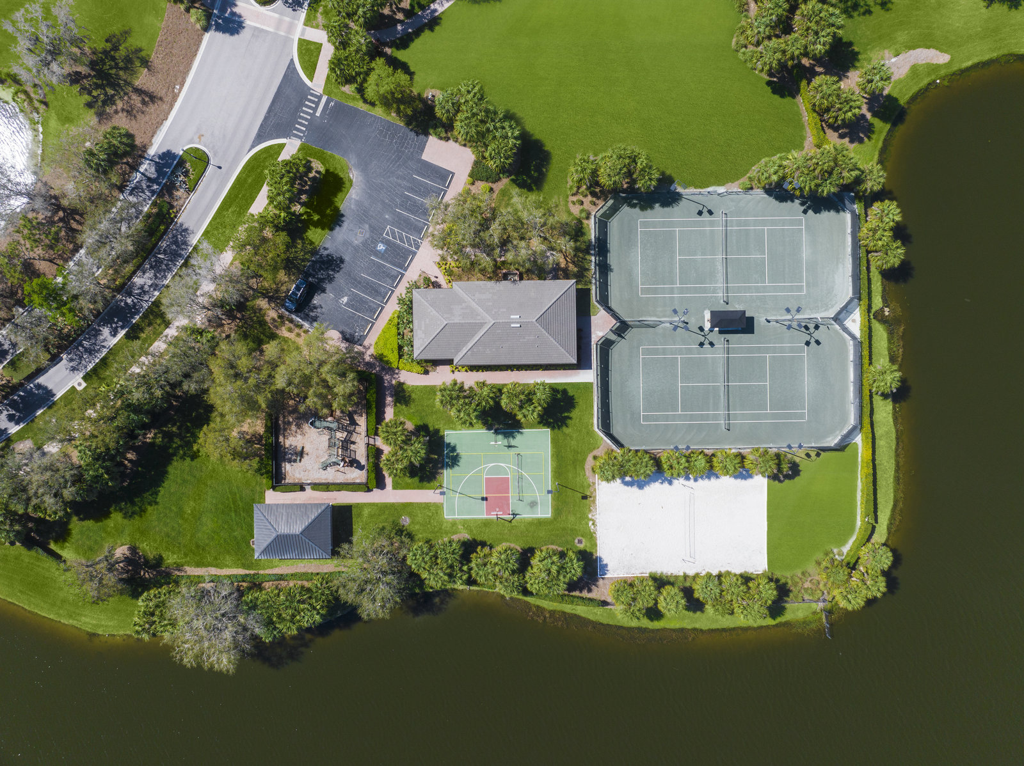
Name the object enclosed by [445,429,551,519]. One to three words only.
basketball court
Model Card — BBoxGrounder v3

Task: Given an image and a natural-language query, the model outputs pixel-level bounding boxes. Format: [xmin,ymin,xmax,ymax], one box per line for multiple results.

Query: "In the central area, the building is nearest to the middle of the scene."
[413,281,578,365]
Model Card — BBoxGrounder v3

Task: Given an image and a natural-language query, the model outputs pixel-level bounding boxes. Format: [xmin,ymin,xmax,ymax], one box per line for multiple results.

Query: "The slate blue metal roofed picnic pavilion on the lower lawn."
[254,503,333,559]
